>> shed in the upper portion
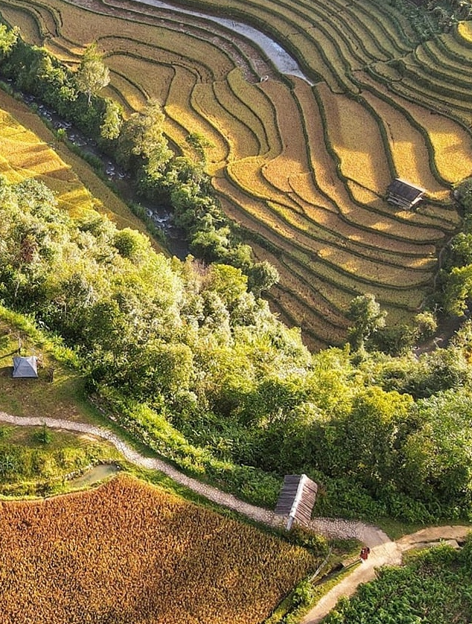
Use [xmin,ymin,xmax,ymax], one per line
[381,177,428,218]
